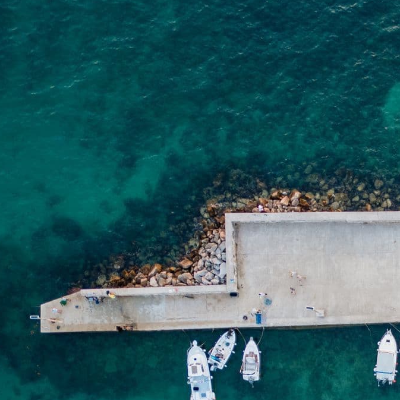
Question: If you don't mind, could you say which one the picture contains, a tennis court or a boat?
boat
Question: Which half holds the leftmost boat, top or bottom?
bottom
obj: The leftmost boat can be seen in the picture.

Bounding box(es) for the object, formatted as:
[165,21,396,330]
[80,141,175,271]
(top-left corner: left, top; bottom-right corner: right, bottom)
[184,330,217,400]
